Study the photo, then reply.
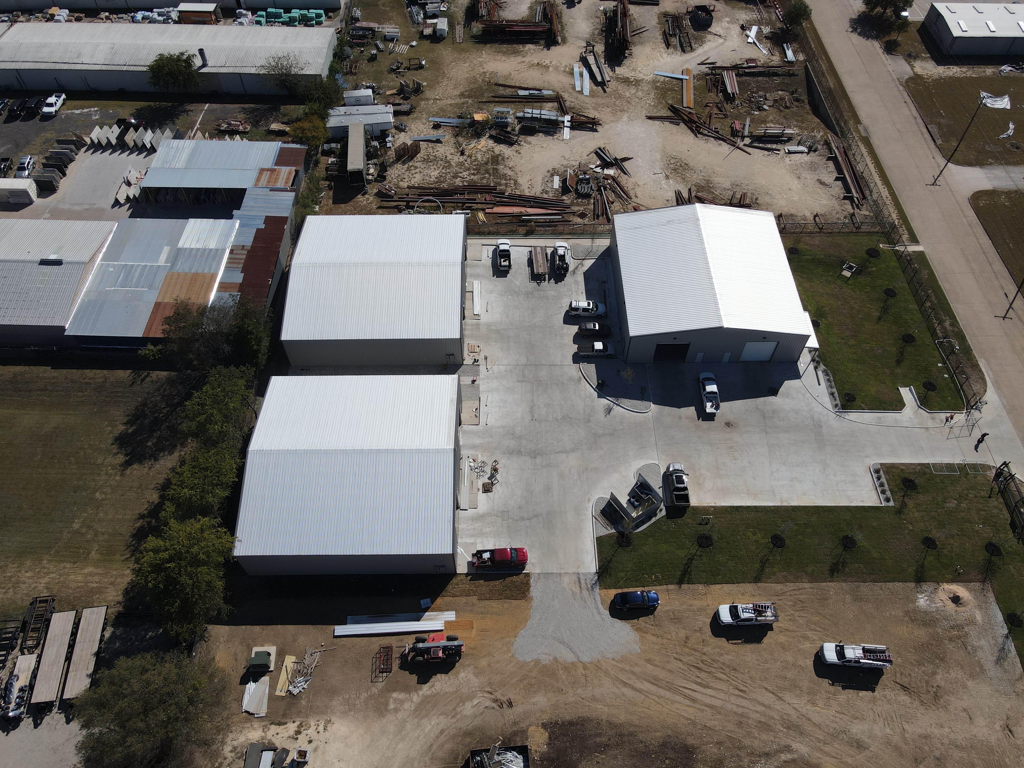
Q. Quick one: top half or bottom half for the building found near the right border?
top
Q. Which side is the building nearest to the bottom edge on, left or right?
left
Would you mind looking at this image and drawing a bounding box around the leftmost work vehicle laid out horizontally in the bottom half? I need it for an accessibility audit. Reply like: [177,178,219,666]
[394,634,465,667]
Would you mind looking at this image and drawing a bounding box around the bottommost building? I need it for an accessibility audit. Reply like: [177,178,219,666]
[231,373,462,577]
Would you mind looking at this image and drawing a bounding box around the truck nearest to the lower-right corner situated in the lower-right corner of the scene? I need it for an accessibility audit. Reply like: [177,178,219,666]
[820,638,894,669]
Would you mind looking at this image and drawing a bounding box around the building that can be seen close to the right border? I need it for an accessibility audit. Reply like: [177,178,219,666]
[925,2,1024,55]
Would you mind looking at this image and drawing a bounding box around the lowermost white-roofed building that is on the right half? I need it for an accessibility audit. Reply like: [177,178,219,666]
[609,202,819,364]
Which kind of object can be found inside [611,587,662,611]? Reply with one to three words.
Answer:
car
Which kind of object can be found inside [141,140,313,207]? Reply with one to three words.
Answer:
shed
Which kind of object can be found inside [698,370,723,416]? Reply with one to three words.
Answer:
truck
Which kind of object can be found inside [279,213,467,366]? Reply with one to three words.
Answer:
building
